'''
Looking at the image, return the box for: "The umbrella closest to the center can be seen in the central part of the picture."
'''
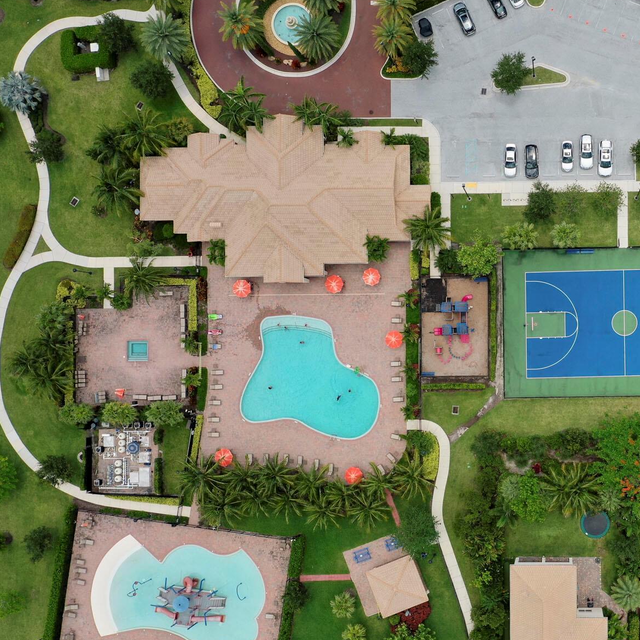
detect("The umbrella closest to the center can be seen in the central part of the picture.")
[326,275,344,293]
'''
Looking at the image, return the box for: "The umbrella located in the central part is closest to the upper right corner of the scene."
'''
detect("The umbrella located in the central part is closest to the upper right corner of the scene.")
[363,268,381,286]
